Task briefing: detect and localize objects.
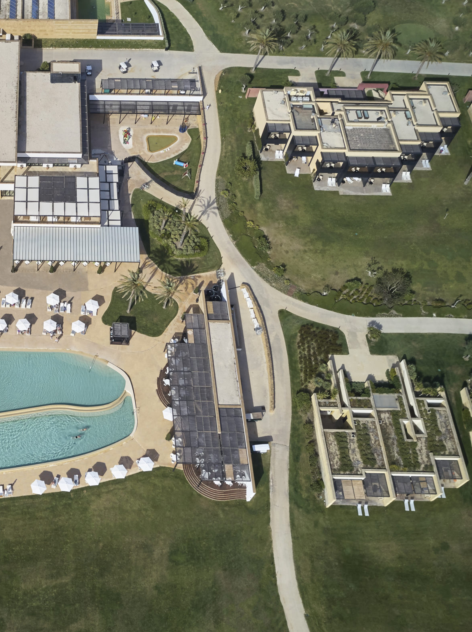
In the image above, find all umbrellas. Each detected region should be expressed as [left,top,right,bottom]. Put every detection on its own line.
[162,406,177,422]
[138,457,155,473]
[43,320,57,333]
[71,320,85,334]
[110,464,128,479]
[46,293,59,307]
[15,318,30,331]
[4,292,18,306]
[85,471,102,487]
[0,319,7,332]
[85,299,99,313]
[58,478,75,493]
[30,480,47,496]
